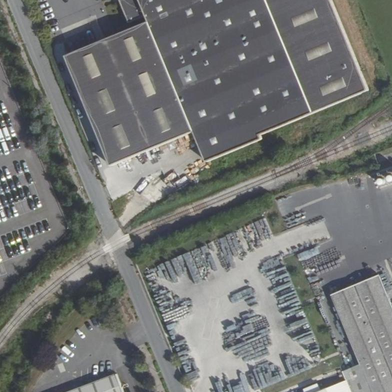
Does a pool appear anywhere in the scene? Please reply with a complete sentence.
No, no pool is visible in the view.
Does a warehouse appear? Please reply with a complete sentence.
Yes, the photo shows a warehouse.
